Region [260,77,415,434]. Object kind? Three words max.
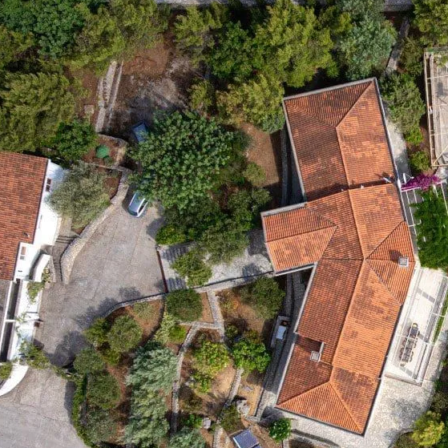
house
